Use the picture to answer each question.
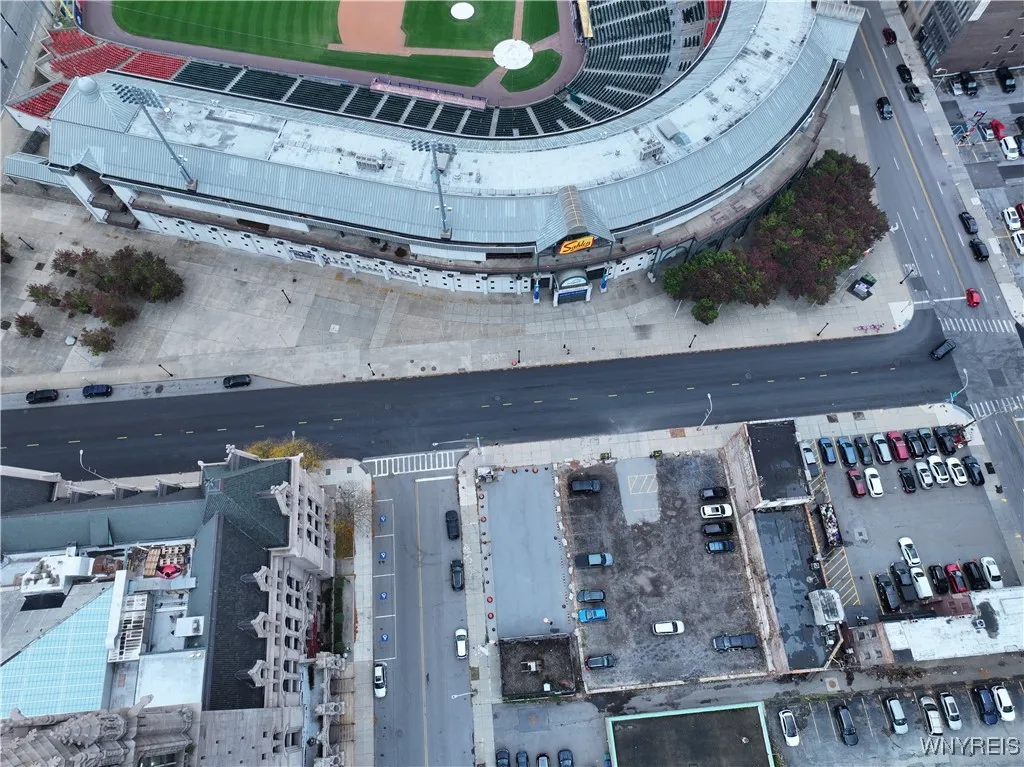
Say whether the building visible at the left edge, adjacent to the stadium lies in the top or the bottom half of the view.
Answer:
bottom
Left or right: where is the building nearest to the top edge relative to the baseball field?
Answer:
to the right of it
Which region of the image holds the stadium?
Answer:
top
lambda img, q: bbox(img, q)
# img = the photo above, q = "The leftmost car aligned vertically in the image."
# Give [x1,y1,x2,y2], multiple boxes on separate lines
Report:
[371,661,388,699]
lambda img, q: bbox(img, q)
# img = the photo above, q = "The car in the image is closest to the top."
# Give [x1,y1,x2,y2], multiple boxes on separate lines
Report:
[880,28,897,44]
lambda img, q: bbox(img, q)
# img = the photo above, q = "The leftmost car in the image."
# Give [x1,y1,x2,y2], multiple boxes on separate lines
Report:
[28,390,59,404]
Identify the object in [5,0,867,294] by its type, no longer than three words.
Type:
stadium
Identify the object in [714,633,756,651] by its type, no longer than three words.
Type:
vehicle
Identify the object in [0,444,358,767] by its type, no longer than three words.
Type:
building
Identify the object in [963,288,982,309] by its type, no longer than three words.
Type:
car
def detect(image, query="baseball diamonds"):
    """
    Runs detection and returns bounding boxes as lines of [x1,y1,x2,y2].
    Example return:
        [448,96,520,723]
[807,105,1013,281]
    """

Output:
[76,0,594,109]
